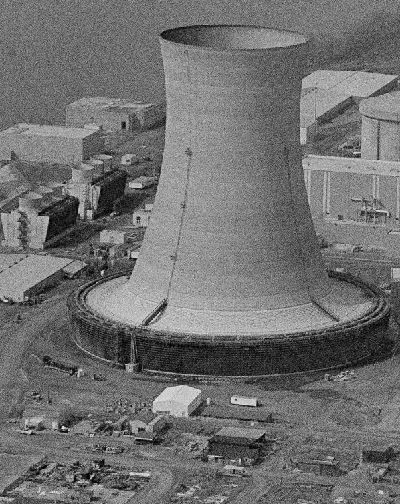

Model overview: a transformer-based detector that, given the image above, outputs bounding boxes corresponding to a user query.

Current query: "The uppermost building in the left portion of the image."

[67,99,167,144]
